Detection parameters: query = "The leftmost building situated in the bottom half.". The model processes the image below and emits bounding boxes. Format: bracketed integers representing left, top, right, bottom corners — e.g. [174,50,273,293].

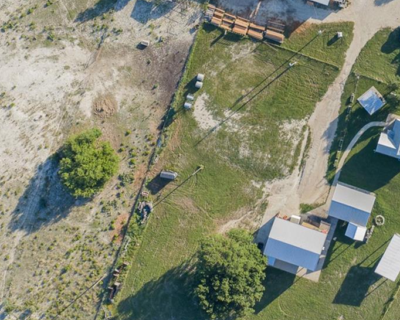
[264,215,328,271]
